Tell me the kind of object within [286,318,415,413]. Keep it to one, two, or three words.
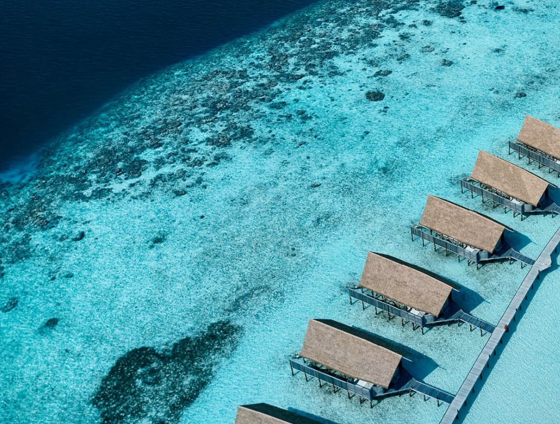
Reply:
house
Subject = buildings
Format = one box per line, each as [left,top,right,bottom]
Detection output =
[286,318,415,413]
[407,194,514,274]
[506,115,560,181]
[233,404,314,424]
[345,251,462,339]
[459,150,557,225]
